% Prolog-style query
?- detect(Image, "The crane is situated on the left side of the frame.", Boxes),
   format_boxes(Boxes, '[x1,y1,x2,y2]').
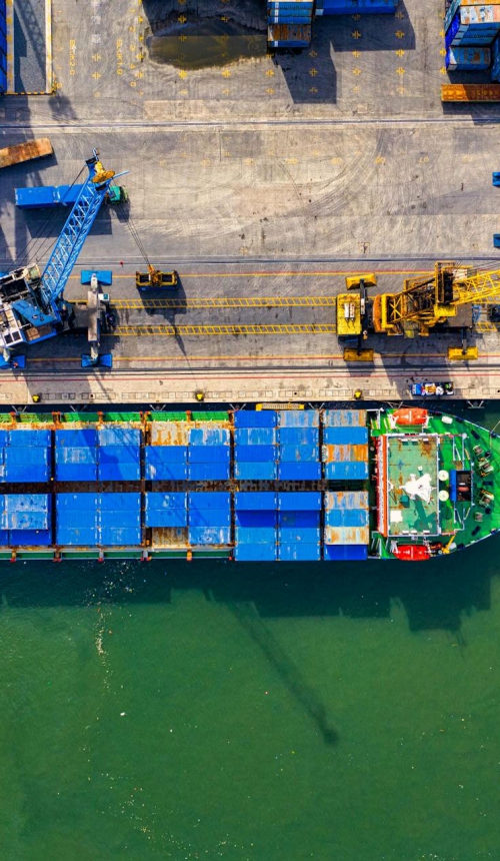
[0,148,154,369]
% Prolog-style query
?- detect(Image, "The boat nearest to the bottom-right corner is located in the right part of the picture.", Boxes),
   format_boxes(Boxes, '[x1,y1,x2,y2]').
[397,545,429,560]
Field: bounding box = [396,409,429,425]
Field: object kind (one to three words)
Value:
boat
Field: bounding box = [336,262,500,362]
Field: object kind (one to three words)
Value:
crane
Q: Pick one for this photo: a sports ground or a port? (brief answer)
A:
port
